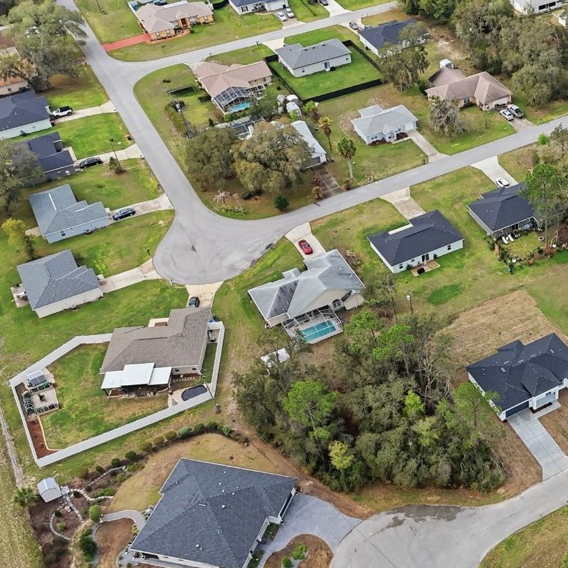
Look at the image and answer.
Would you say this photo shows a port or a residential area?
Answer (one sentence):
This image shows a residential area.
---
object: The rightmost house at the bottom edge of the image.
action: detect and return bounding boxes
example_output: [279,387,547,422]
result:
[128,456,301,568]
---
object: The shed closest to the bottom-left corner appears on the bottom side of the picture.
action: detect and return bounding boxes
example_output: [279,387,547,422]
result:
[28,473,64,506]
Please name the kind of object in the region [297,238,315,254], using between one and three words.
car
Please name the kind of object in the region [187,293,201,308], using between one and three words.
vehicle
